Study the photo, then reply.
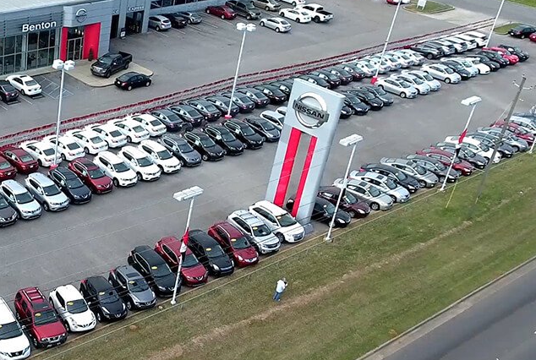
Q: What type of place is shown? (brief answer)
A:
parking lot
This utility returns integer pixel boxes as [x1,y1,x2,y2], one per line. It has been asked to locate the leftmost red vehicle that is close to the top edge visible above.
[203,7,235,20]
